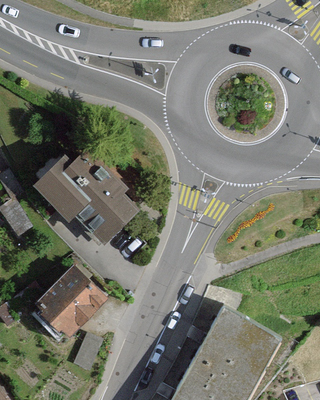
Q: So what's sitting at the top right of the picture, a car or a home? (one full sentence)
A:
What appears at the top right of the picture is a car.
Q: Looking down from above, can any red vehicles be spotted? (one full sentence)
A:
No, the scene contains no red vehicle.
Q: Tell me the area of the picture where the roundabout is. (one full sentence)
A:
You can find the roundabout in the top right area of the picture.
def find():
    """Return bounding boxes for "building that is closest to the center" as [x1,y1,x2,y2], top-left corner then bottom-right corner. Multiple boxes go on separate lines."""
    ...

[34,154,140,245]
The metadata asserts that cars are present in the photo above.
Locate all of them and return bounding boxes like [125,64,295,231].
[60,24,81,38]
[282,68,302,85]
[180,284,195,304]
[151,344,166,364]
[286,388,300,400]
[112,230,132,249]
[168,310,182,329]
[143,38,164,48]
[123,238,144,258]
[231,44,252,56]
[2,4,20,18]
